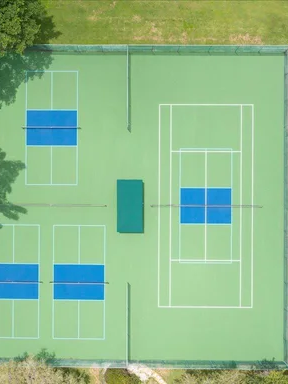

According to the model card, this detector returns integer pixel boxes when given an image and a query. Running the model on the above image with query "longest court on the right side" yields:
[157,104,253,308]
